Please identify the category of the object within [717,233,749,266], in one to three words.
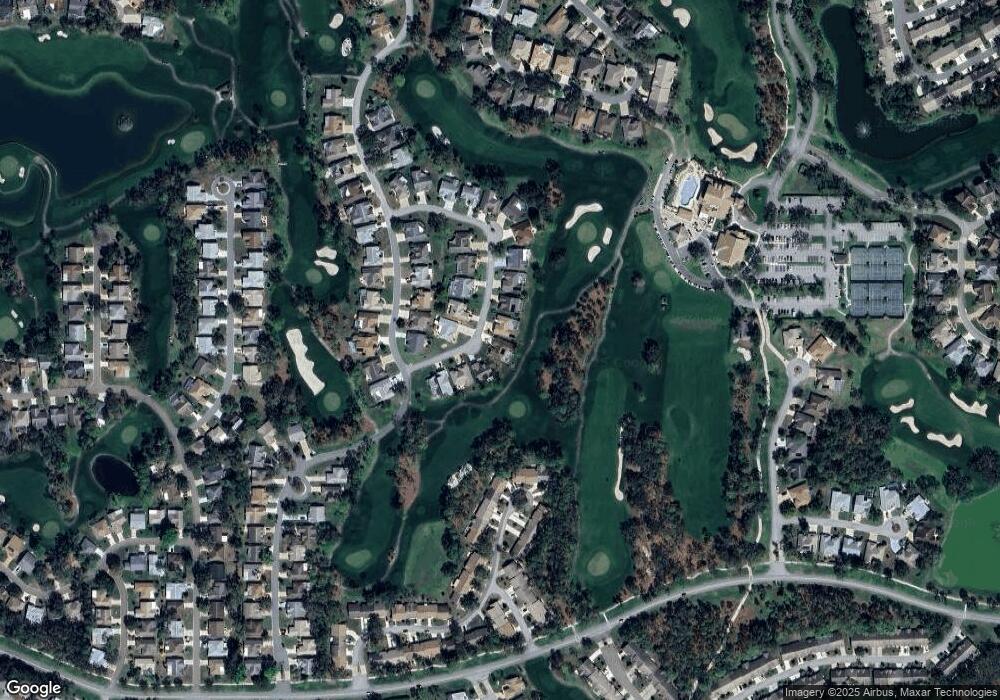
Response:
building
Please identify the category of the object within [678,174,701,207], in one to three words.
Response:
swimming pool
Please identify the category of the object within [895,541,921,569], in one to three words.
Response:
house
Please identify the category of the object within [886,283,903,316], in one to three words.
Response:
tennis court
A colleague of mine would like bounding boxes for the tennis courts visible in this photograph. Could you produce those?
[852,283,868,316]
[886,283,903,316]
[852,248,868,280]
[886,248,903,280]
[868,283,886,316]
[868,248,886,280]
